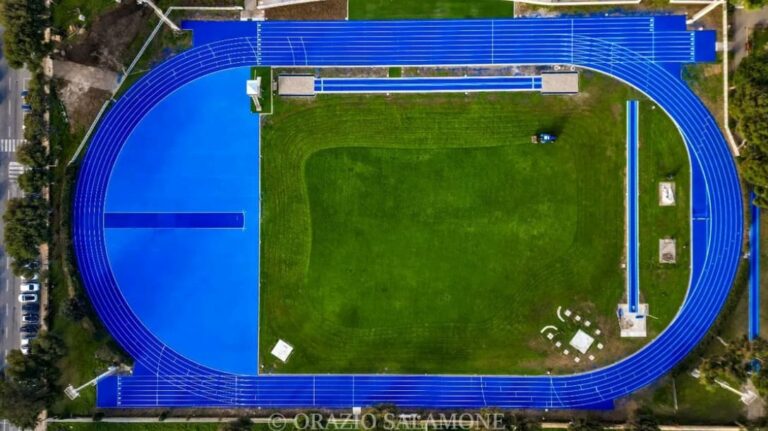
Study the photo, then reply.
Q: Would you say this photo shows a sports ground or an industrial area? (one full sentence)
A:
What you see here is a sports ground.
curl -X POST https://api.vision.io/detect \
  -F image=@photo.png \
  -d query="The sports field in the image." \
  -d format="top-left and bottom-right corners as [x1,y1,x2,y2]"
[251,63,691,375]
